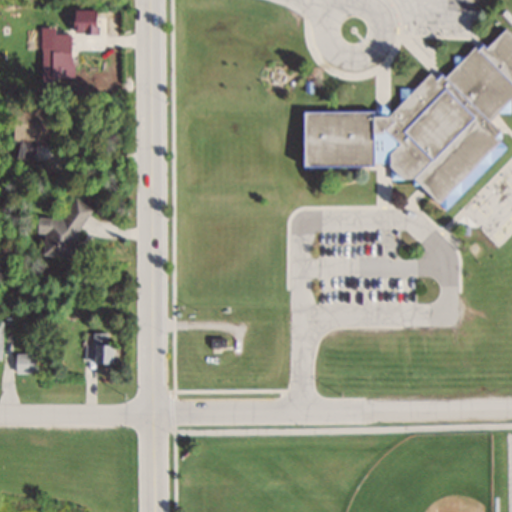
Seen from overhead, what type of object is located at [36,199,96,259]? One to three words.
house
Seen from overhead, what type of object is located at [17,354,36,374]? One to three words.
building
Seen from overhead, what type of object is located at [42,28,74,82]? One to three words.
house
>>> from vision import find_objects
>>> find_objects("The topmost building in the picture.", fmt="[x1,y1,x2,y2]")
[74,9,98,34]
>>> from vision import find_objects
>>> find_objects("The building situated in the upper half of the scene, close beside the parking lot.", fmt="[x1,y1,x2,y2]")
[304,30,512,210]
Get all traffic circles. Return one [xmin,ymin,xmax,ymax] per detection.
[304,0,396,81]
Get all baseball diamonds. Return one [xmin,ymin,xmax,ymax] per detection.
[346,434,494,512]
